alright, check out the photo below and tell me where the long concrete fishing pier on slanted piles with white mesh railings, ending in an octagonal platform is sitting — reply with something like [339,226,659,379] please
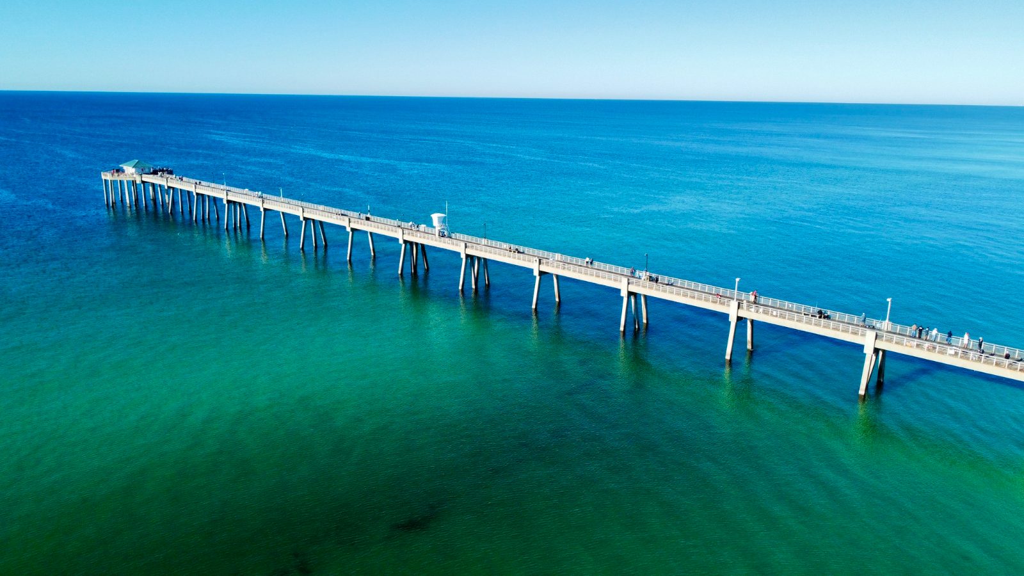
[100,168,1024,394]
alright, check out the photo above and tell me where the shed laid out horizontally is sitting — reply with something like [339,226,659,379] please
[119,159,155,175]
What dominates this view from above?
water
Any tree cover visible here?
No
